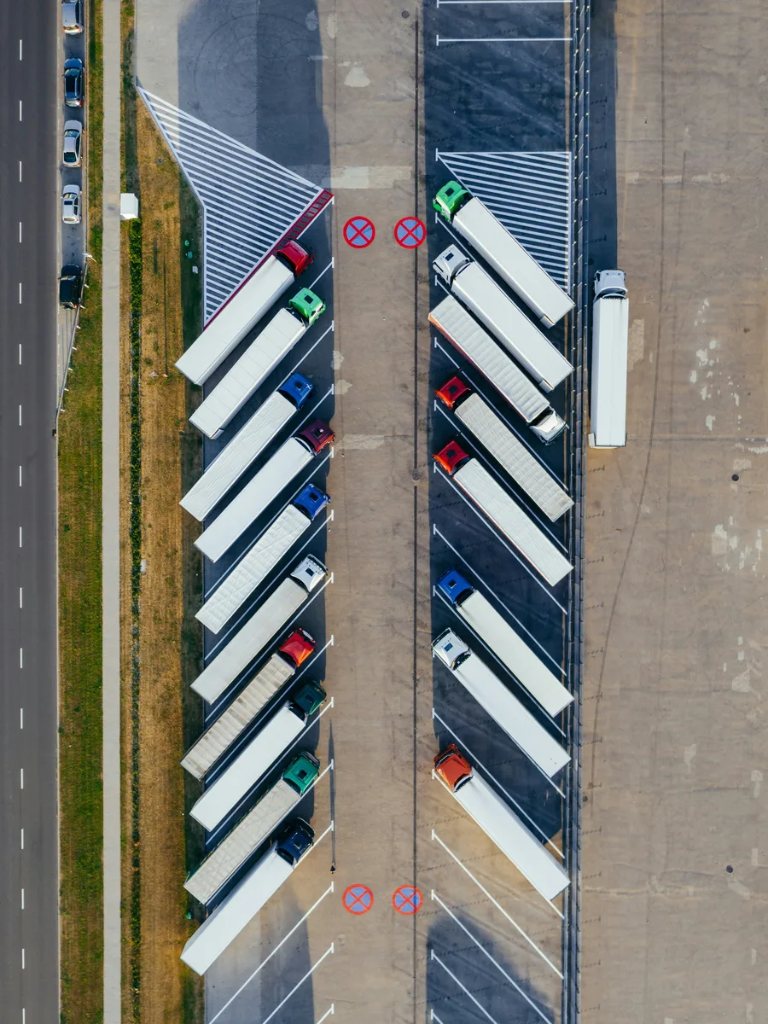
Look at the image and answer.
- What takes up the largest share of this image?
paved ground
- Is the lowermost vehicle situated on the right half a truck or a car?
truck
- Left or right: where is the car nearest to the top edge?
left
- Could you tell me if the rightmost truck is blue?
No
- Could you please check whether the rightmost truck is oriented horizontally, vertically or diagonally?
vertically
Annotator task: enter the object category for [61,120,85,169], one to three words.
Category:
car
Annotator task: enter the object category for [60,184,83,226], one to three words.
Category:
car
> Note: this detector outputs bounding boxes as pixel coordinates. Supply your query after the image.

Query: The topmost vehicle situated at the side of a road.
[63,0,84,36]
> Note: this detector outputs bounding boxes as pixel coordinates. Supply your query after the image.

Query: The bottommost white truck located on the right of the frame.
[433,743,571,900]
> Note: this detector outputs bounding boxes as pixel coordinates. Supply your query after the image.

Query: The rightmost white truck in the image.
[588,269,628,448]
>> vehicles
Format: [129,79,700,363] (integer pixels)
[181,370,318,521]
[433,437,572,586]
[432,243,574,392]
[432,178,575,330]
[196,481,331,634]
[179,627,315,782]
[60,184,83,226]
[431,626,571,777]
[63,0,84,36]
[175,235,315,387]
[61,59,85,109]
[194,416,335,563]
[189,288,326,441]
[428,295,567,446]
[184,748,323,904]
[189,677,327,832]
[59,263,84,312]
[61,120,85,169]
[433,743,571,900]
[191,554,329,704]
[588,269,628,448]
[435,566,574,717]
[434,372,574,522]
[180,816,316,977]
